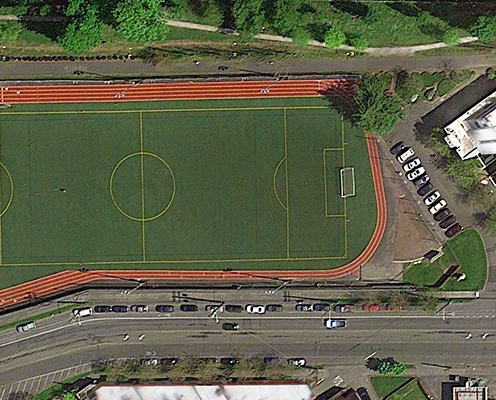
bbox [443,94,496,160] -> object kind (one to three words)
building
